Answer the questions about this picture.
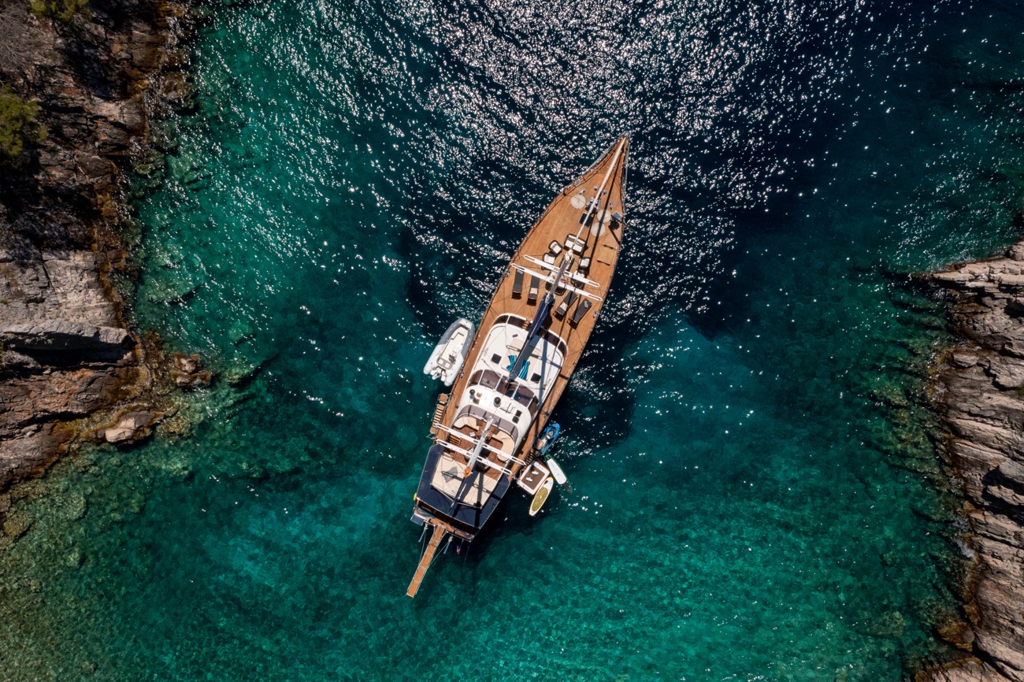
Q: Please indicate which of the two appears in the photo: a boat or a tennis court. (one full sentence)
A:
Visible in the photo is a boat.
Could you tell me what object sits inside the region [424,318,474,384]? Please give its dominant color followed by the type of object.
white boat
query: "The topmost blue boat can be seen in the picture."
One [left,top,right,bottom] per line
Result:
[532,423,562,459]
